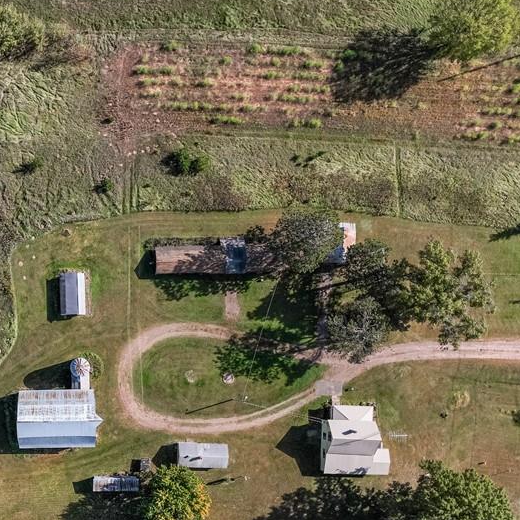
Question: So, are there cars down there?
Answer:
No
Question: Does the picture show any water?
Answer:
No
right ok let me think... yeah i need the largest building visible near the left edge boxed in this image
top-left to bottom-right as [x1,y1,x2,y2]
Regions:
[18,389,104,449]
